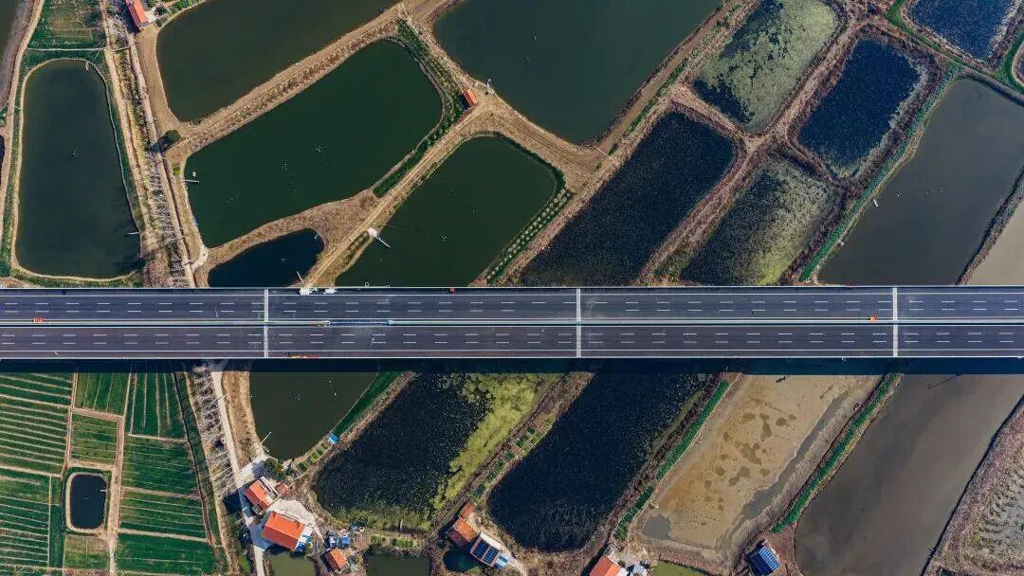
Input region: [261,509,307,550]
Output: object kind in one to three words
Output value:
house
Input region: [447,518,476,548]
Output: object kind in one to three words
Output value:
house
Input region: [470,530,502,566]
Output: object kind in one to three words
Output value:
barn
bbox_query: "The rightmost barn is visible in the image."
[749,544,780,576]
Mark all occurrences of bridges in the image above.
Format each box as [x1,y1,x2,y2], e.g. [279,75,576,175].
[0,286,1024,359]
